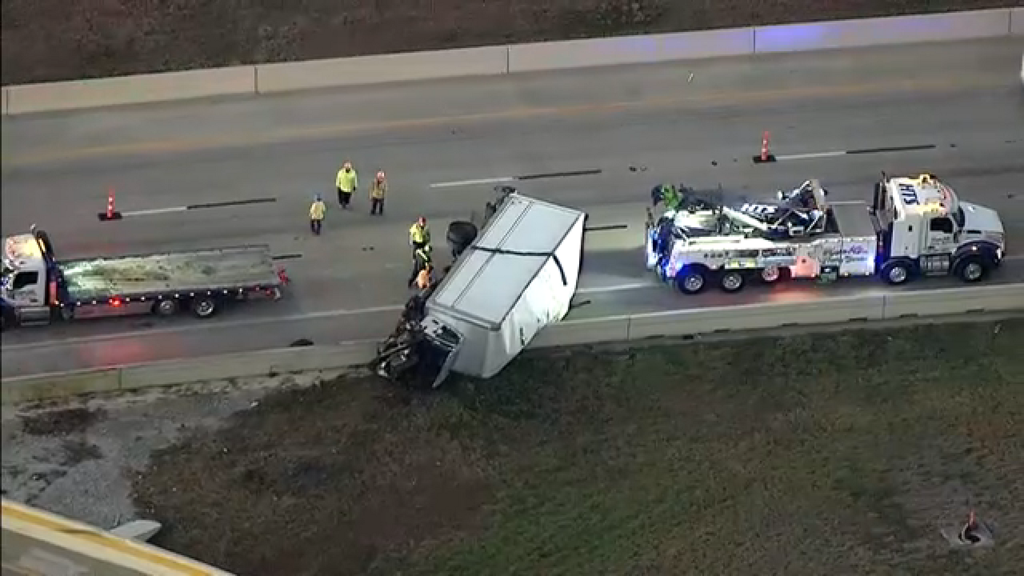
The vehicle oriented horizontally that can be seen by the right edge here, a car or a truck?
truck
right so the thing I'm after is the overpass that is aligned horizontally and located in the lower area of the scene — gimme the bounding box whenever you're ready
[0,498,233,576]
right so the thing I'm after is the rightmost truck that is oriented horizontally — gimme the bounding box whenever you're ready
[642,168,1006,292]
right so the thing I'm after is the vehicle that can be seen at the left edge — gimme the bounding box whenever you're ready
[0,221,288,333]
